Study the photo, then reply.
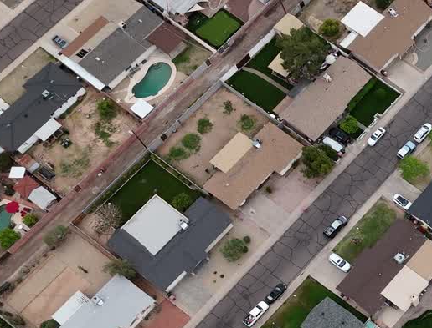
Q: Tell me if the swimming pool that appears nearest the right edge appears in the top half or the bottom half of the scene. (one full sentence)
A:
It is in the top half that the swimming pool that appears nearest the right edge appears.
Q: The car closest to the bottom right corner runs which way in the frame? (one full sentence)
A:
The car closest to the bottom right corner has been laid out on a diagonal relative to the frame.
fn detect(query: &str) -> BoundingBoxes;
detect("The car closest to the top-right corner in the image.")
[413,123,431,142]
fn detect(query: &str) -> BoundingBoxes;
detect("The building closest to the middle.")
[204,124,301,211]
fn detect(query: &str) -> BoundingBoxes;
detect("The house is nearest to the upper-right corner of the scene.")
[340,0,432,73]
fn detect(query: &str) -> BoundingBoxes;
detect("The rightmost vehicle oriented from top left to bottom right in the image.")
[392,192,411,211]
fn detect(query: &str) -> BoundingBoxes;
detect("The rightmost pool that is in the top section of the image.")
[128,57,176,100]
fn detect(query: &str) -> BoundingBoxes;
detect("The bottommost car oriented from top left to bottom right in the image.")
[329,253,350,273]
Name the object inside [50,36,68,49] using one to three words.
vehicle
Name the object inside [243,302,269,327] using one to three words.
truck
